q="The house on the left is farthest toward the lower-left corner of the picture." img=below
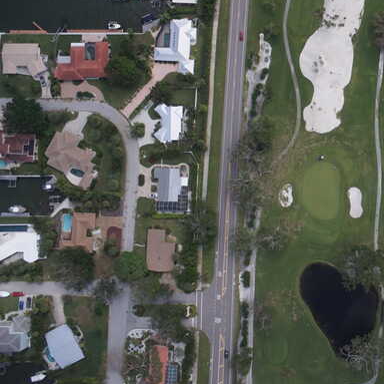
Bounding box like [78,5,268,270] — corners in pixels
[0,315,34,352]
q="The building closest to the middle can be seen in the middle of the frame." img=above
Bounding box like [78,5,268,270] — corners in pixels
[154,167,189,201]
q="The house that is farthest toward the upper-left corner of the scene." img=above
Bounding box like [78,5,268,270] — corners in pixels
[2,43,50,79]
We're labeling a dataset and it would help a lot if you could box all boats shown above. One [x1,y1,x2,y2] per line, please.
[140,14,157,24]
[28,375,47,383]
[39,184,55,189]
[106,22,121,28]
[6,206,25,212]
